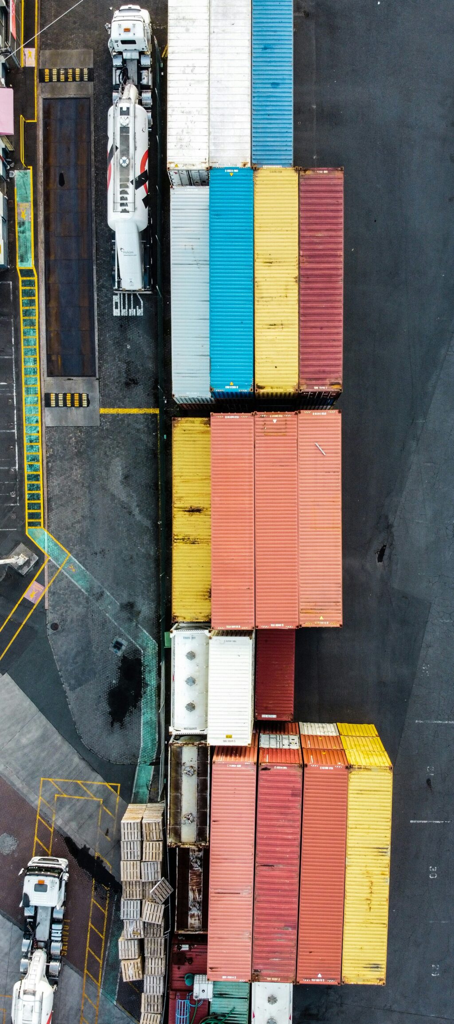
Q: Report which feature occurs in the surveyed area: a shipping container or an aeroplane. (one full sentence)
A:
This aerial view contains a shipping container.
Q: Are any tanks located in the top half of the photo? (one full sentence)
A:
No, I can find no tank in the top half of the photo.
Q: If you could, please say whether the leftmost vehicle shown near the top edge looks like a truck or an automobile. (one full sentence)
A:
The leftmost vehicle shown near the top edge can be classified as a truck.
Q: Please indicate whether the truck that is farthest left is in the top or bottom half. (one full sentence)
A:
You can find the truck that is farthest left in the bottom half.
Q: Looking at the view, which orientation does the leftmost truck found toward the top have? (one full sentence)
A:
The leftmost truck found toward the top is laid out up and down.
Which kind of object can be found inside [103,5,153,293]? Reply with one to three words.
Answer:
truck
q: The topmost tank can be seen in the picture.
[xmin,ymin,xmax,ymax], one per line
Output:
[174,627,209,728]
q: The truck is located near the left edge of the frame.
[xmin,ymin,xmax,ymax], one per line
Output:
[12,848,70,1024]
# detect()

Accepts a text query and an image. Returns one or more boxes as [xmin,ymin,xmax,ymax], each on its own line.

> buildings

[0,137,10,268]
[0,0,21,68]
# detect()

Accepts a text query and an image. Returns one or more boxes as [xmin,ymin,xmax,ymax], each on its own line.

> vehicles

[103,5,153,293]
[12,848,70,1024]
